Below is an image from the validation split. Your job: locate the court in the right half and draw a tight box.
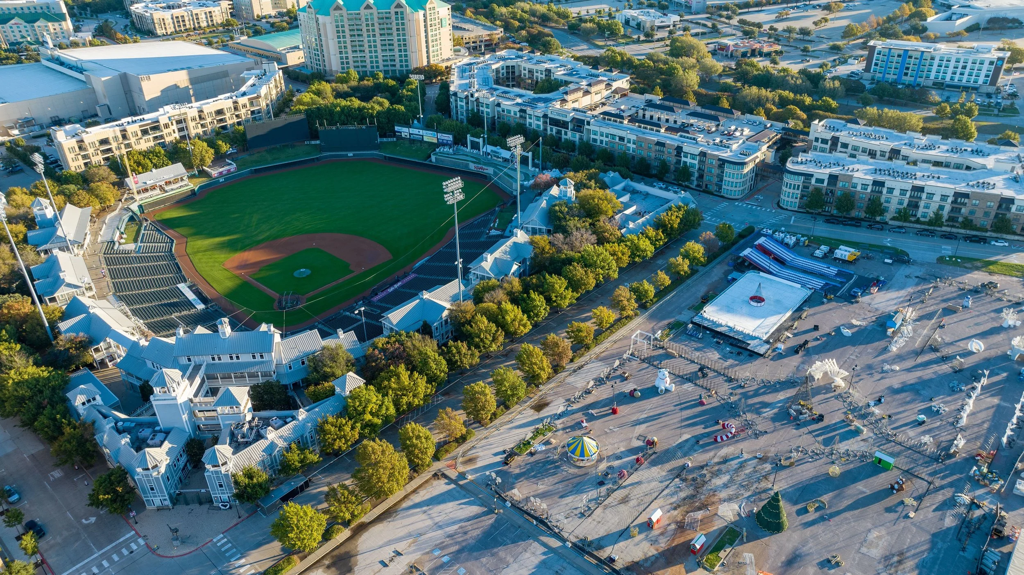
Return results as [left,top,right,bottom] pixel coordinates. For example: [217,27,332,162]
[690,268,815,352]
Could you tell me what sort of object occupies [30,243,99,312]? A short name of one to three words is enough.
building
